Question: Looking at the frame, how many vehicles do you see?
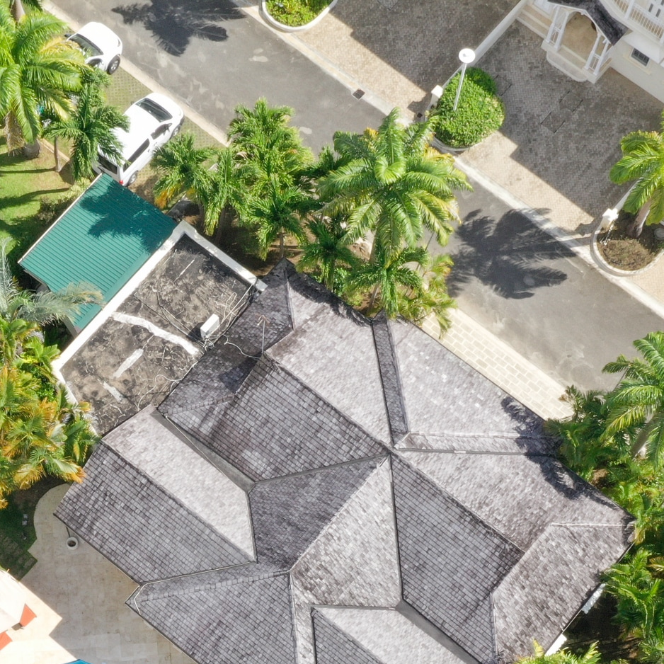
2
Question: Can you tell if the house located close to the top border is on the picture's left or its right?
right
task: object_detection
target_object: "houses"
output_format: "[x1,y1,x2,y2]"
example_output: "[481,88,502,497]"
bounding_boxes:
[52,256,635,664]
[508,0,664,104]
